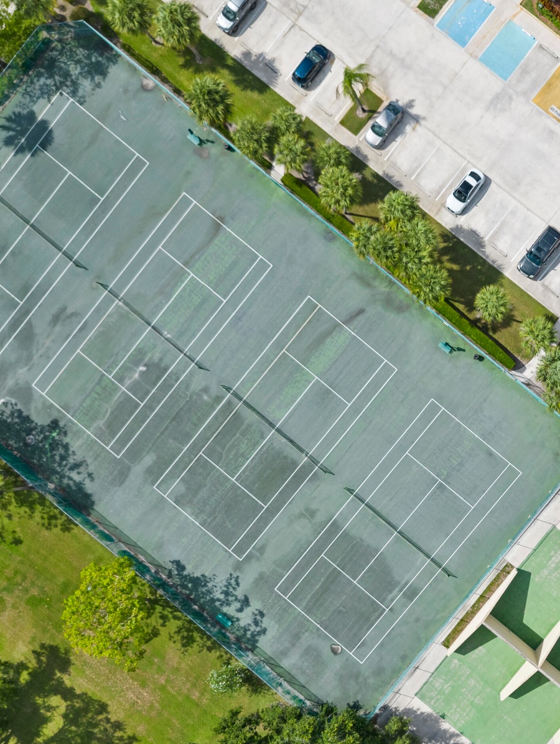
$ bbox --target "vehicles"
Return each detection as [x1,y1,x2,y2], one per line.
[218,0,257,35]
[520,226,560,278]
[448,167,485,215]
[294,47,329,89]
[368,100,404,149]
